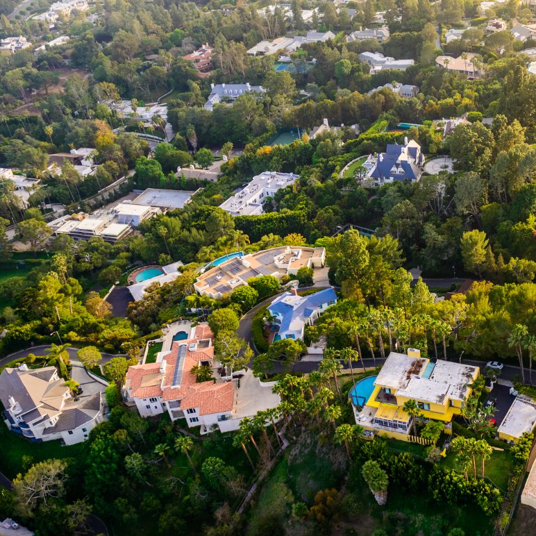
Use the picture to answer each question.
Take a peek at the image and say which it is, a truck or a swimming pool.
swimming pool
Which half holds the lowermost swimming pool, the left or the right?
right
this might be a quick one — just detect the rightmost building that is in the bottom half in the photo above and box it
[497,398,536,453]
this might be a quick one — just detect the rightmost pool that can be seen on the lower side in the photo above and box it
[349,374,378,406]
